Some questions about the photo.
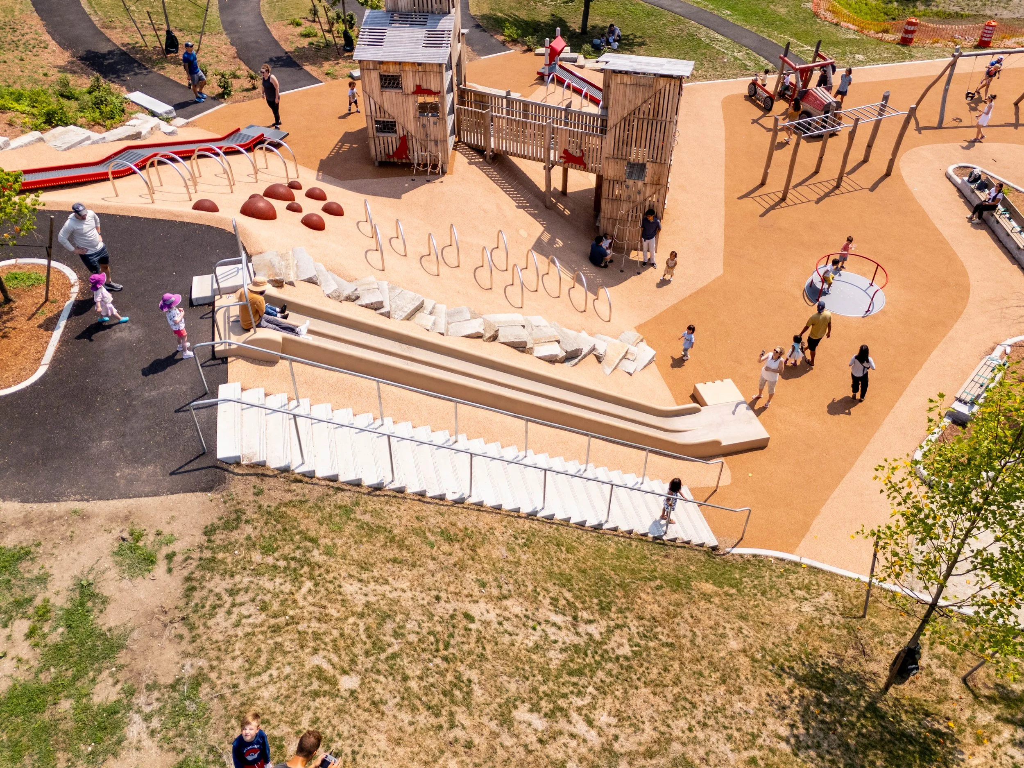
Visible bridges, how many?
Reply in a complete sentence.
In total, 1 bridge can be seen.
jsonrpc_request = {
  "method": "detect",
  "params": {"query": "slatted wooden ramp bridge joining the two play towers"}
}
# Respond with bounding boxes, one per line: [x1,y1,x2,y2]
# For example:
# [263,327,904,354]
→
[453,86,608,212]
